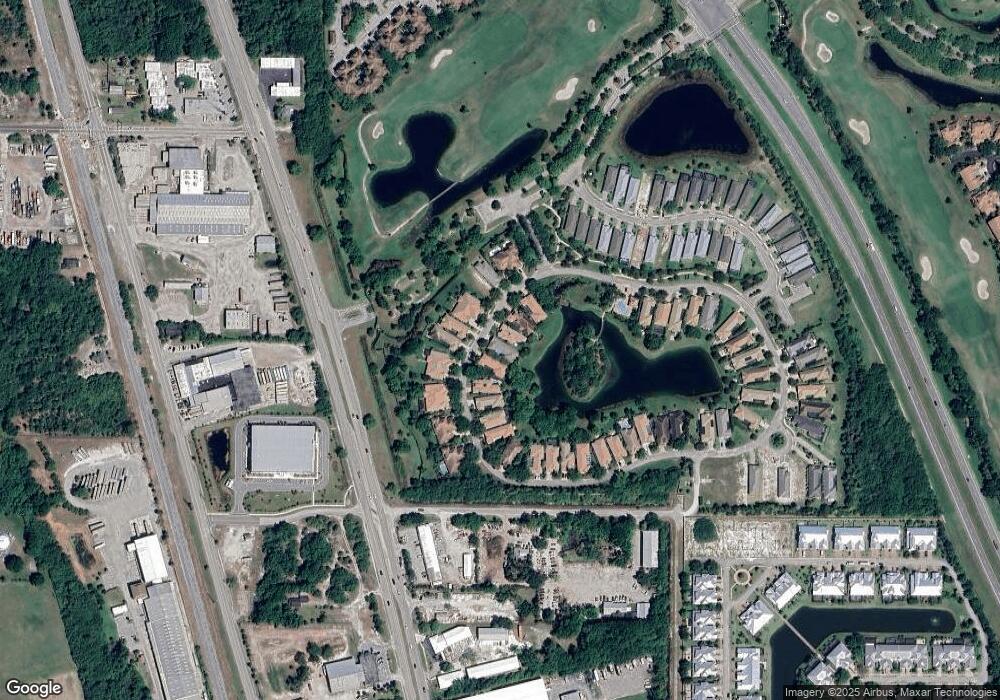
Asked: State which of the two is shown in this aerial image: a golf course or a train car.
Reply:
golf course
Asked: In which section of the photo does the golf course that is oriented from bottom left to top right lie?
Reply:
top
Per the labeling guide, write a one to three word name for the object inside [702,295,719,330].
house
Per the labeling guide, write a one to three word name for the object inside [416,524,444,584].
building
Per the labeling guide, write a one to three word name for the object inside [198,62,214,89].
building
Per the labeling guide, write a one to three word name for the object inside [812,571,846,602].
house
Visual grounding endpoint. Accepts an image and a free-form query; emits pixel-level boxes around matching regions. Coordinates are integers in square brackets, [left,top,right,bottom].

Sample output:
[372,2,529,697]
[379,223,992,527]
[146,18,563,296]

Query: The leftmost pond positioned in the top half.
[369,110,549,217]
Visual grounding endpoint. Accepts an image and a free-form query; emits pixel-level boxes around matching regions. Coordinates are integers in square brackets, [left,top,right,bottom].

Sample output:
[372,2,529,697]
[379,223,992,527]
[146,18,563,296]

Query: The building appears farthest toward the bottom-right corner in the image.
[933,640,977,670]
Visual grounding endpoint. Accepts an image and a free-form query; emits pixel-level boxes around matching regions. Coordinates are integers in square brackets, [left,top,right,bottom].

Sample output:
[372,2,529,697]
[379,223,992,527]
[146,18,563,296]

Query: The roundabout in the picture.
[762,425,793,456]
